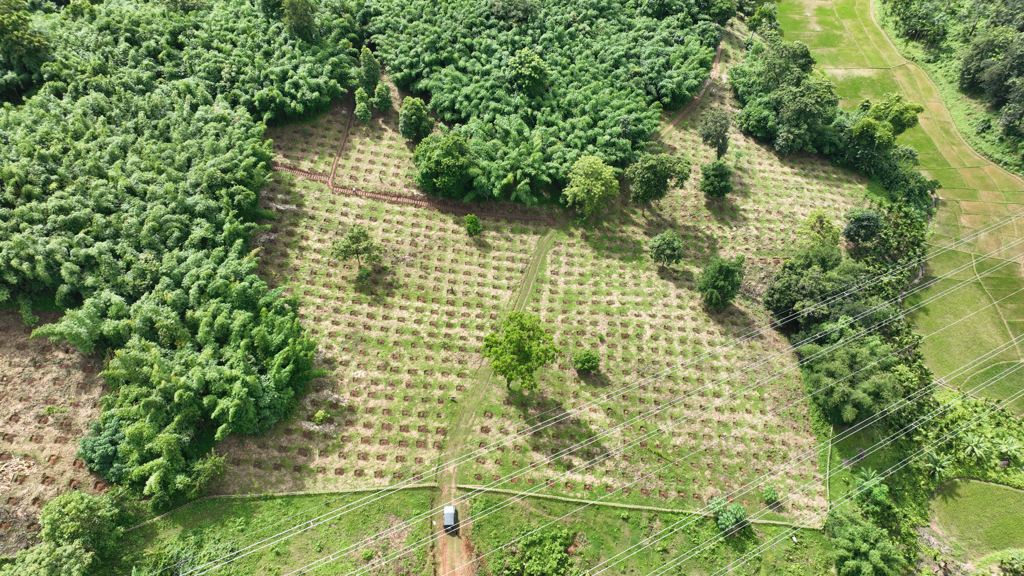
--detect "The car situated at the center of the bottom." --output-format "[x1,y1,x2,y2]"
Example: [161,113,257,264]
[443,507,457,533]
